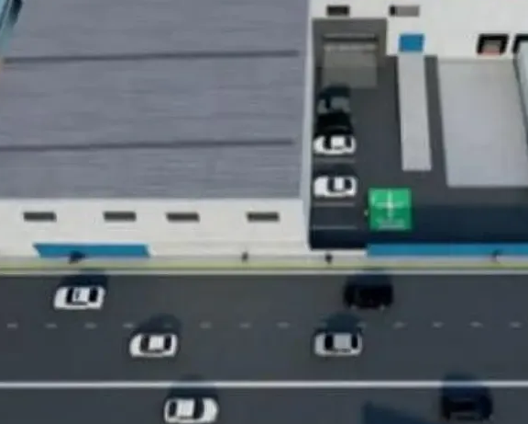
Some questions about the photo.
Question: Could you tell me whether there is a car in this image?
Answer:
Yes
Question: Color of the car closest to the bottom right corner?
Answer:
black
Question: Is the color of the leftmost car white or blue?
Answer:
white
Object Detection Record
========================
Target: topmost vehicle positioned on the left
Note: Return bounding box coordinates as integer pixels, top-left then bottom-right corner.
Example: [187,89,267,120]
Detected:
[55,282,105,310]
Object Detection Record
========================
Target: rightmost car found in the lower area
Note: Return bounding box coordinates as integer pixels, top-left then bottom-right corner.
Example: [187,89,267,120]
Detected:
[442,388,495,420]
